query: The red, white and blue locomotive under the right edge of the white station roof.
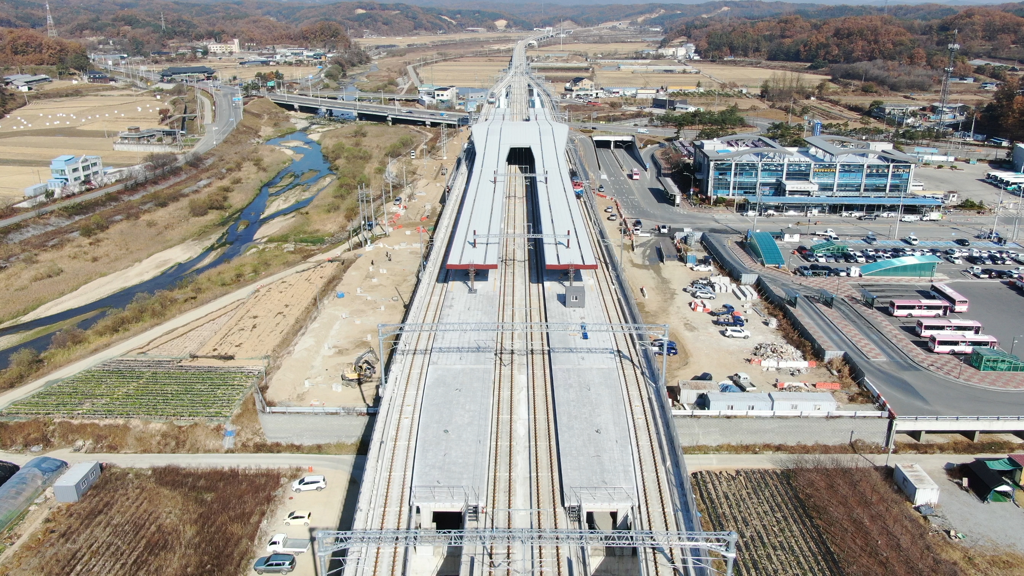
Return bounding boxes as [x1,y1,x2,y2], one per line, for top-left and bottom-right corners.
[570,168,587,198]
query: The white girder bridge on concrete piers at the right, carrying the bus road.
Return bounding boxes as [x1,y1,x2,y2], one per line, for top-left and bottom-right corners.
[851,377,1024,464]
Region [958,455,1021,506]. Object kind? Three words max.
tent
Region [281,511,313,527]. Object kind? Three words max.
car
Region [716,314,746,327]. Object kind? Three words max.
vehicle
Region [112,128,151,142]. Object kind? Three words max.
house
